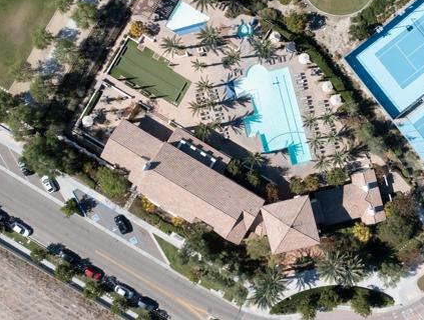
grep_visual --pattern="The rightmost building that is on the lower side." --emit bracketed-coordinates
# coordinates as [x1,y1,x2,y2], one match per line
[343,168,385,223]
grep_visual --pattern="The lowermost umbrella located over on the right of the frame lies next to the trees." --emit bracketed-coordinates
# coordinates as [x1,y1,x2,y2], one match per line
[328,93,342,106]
